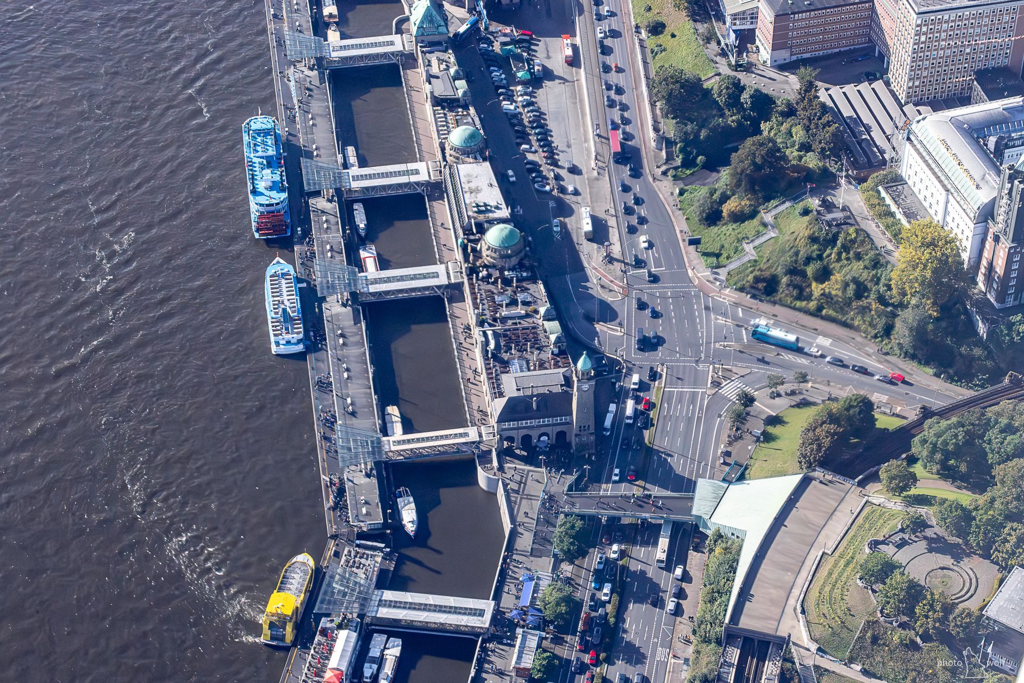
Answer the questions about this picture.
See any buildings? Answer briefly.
Yes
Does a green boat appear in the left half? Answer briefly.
No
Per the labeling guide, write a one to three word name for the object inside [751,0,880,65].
building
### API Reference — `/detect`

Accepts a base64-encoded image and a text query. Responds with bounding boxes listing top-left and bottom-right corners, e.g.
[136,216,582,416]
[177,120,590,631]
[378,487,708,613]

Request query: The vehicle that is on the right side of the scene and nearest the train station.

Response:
[657,521,674,568]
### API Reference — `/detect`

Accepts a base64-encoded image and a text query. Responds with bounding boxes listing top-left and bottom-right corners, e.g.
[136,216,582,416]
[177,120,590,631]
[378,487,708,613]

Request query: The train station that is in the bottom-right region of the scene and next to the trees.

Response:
[690,466,866,683]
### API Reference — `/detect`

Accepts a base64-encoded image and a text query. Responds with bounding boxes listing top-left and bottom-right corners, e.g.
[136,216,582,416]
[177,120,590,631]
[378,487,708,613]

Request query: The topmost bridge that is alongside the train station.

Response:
[844,369,1024,492]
